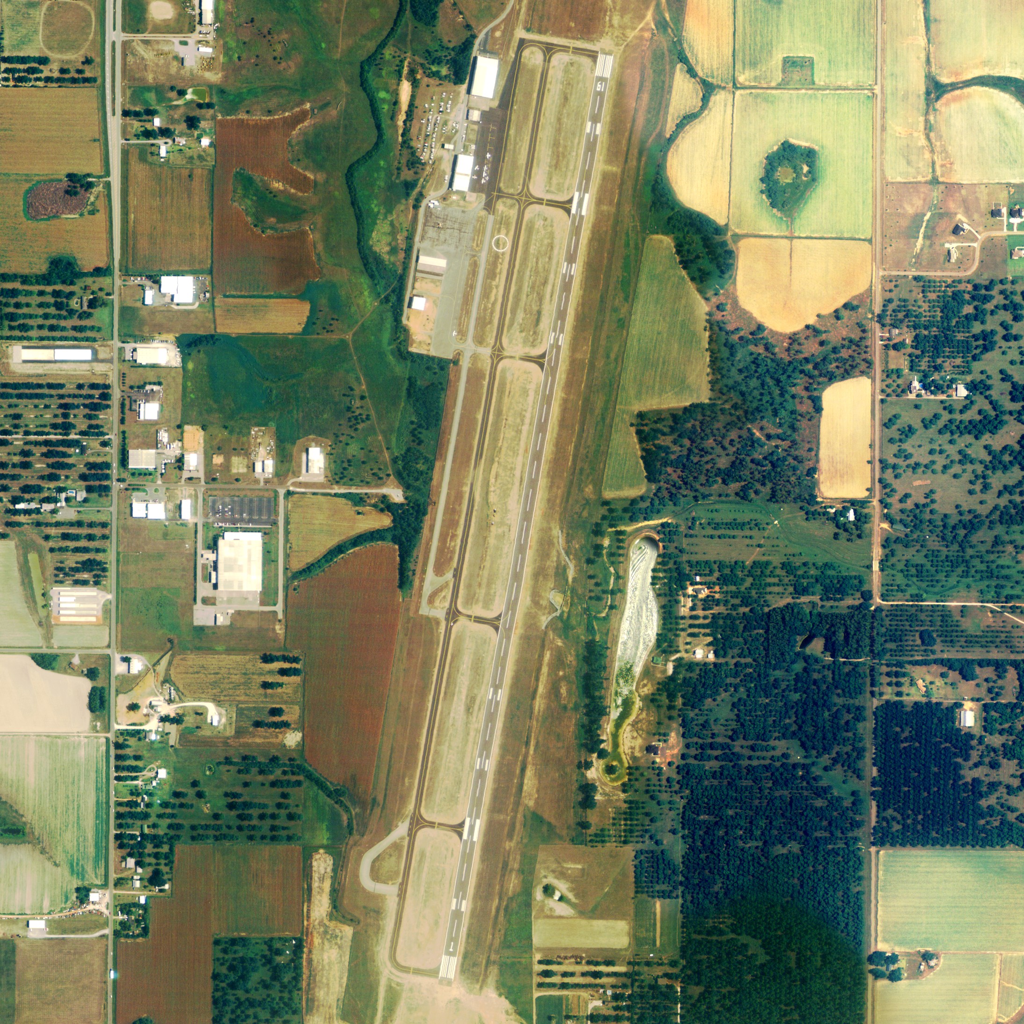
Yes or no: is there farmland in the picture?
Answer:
Yes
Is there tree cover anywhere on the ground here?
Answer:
Yes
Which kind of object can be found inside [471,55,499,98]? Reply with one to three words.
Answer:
hangar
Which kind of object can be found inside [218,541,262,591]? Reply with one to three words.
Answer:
building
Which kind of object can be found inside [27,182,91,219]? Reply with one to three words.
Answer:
pond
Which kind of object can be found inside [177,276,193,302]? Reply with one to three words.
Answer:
building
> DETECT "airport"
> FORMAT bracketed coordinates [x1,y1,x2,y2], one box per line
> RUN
[360,38,613,988]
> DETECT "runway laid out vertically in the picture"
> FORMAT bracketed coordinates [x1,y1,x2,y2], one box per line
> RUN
[439,51,613,983]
